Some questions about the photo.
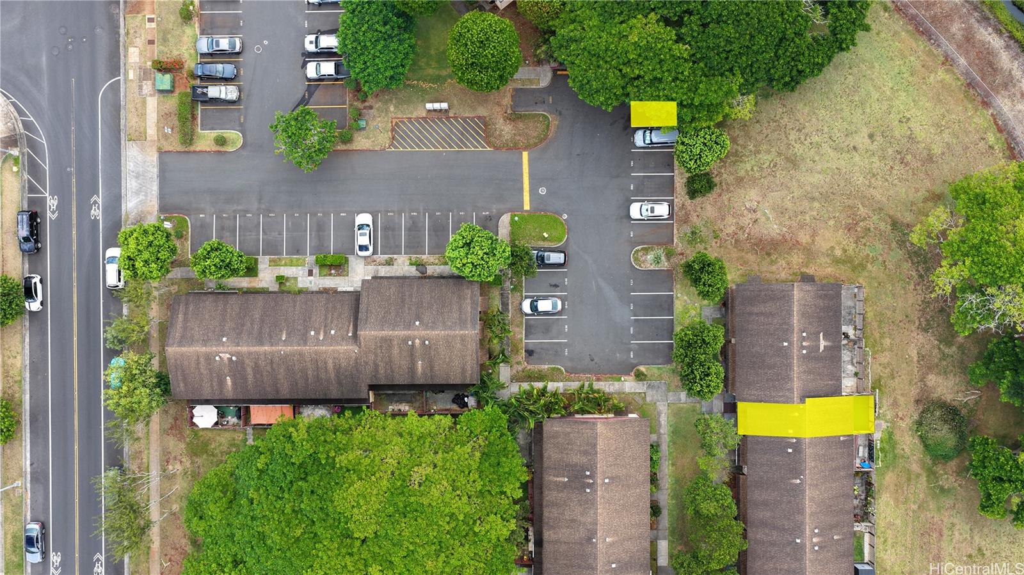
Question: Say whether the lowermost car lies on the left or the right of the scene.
left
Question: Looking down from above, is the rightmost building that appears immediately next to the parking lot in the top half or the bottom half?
bottom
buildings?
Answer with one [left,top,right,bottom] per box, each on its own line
[725,277,853,575]
[165,262,479,407]
[532,411,650,575]
[496,0,516,14]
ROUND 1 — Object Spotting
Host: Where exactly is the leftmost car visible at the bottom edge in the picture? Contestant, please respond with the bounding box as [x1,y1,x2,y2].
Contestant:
[22,520,47,563]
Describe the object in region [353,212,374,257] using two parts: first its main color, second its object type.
white car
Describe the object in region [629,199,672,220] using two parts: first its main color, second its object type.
white car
